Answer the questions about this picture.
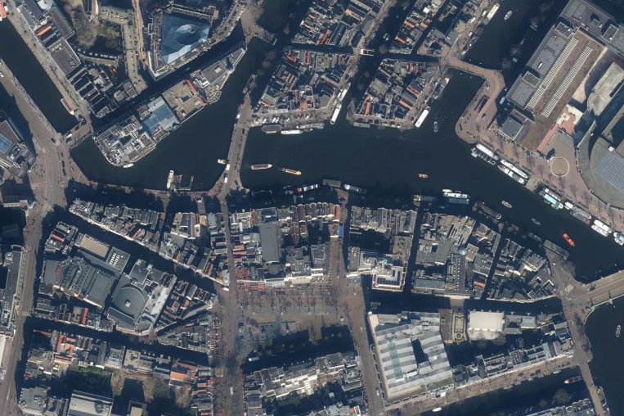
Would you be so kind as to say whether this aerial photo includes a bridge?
Yes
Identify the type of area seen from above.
residential area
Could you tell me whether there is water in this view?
Yes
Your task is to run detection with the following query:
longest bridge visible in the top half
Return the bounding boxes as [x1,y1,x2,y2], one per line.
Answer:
[208,88,253,192]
